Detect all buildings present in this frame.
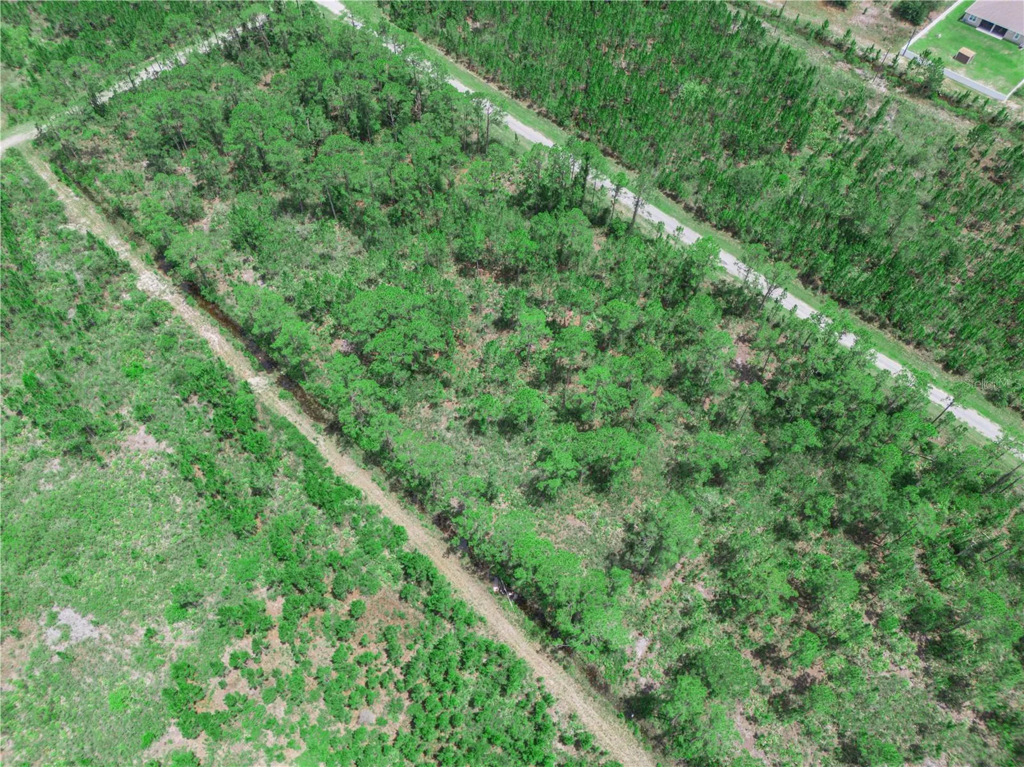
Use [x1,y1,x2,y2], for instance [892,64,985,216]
[963,0,1024,44]
[958,44,978,63]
